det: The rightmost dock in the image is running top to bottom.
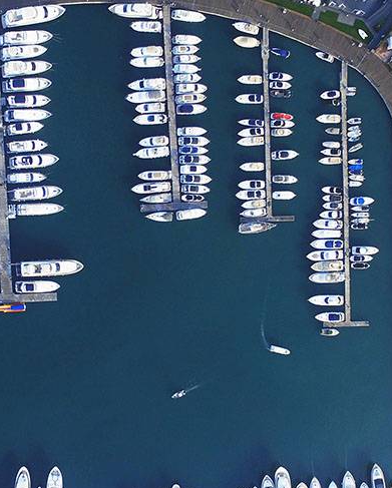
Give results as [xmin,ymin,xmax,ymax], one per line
[322,60,369,328]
